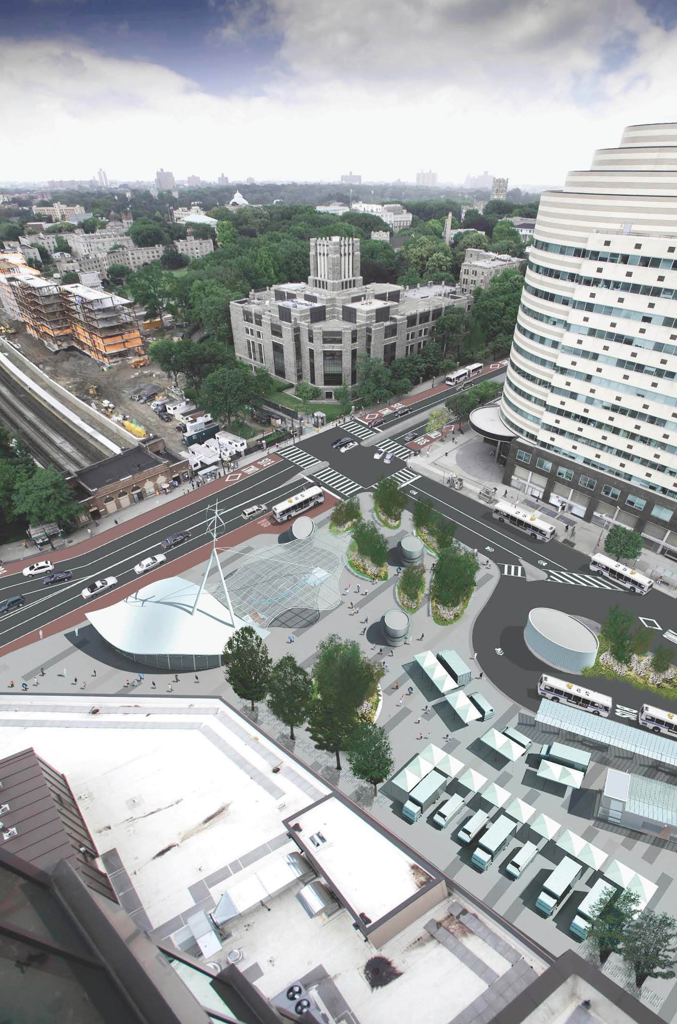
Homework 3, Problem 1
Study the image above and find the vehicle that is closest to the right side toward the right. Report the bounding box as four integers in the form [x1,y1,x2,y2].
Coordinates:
[639,698,677,736]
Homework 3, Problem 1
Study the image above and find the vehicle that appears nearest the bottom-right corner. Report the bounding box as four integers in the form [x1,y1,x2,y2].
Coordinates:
[563,872,619,942]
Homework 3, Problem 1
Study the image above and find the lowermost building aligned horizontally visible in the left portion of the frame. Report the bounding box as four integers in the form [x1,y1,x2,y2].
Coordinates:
[85,577,270,671]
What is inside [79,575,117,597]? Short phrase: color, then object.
white car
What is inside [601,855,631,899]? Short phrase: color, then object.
white tent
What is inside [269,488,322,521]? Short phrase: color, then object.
white bus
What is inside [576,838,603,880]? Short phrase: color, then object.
white tent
